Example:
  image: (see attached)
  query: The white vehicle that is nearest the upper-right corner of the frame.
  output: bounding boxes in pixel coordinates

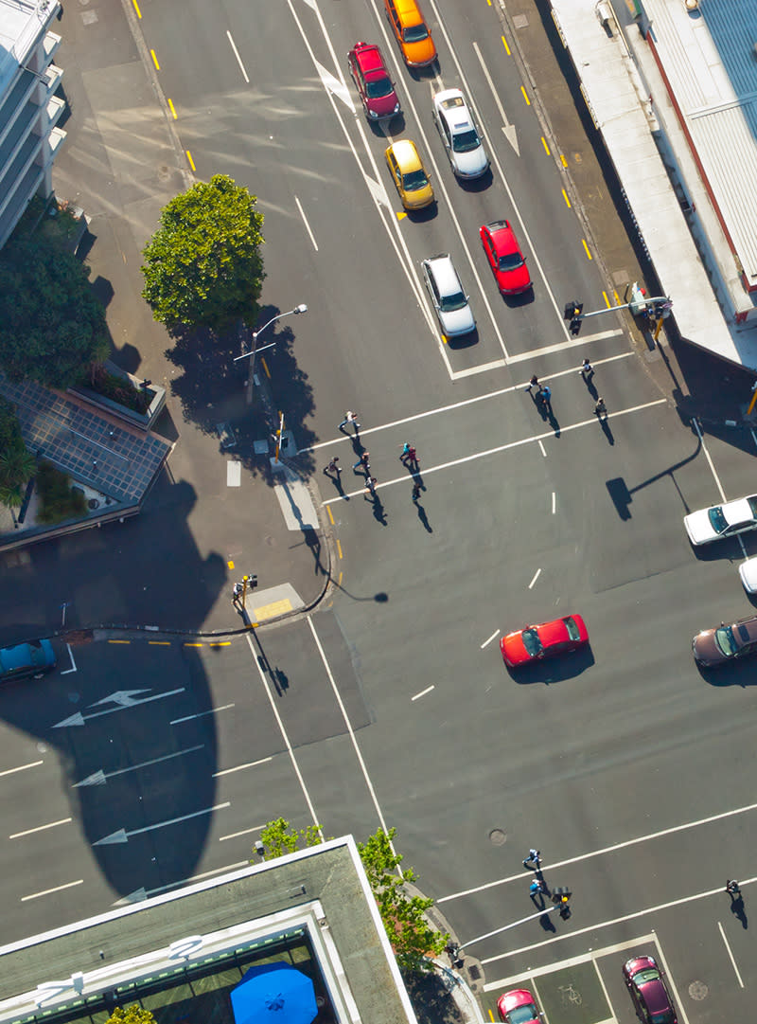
[434,96,488,181]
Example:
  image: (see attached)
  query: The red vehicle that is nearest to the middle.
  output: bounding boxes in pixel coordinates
[498,613,588,665]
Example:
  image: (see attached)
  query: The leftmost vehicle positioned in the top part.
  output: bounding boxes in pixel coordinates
[351,43,399,123]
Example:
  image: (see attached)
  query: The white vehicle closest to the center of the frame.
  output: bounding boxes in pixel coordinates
[423,257,474,339]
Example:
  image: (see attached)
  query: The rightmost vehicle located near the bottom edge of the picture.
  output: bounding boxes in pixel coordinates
[625,953,683,1024]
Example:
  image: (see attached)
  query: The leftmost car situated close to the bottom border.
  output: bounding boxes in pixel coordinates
[504,987,551,1024]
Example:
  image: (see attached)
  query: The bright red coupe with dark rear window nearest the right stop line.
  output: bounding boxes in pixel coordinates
[482,220,531,297]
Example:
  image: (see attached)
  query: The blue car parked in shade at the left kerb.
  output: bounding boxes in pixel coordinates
[0,642,57,687]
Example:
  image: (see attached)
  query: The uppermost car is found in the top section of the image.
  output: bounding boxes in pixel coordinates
[382,0,436,66]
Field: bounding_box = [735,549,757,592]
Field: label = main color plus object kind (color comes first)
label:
white car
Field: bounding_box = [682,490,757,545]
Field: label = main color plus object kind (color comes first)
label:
white car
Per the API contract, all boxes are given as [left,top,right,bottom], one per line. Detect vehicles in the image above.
[388,142,434,211]
[625,953,683,1024]
[482,220,531,297]
[498,613,588,665]
[382,0,436,66]
[351,43,399,123]
[504,987,551,1024]
[423,257,474,339]
[434,96,488,181]
[0,642,57,687]
[688,608,757,663]
[682,490,757,545]
[735,549,757,592]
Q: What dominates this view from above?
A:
paved ground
